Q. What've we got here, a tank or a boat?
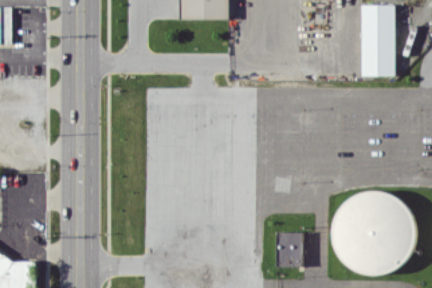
tank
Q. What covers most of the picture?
paved ground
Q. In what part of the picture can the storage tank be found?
bottom right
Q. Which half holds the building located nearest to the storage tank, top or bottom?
bottom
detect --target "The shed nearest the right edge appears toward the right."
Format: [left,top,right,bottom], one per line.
[362,5,395,76]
